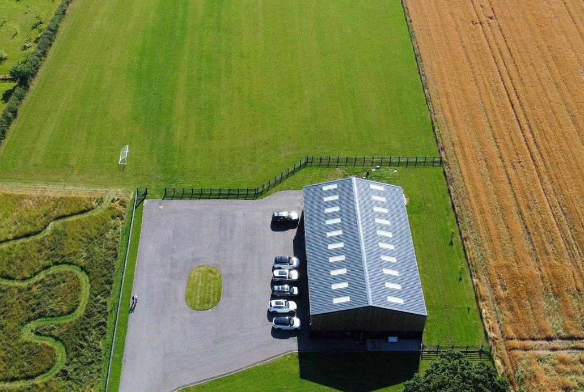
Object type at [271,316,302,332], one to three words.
car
